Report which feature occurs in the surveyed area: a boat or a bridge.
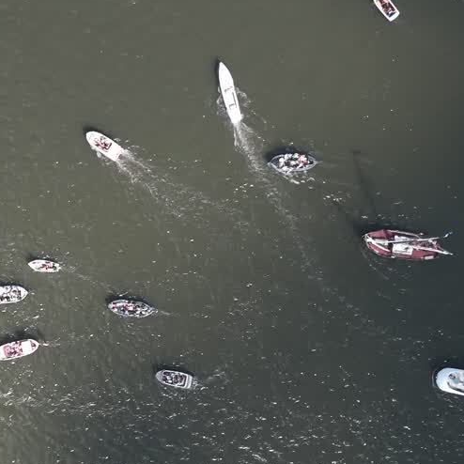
boat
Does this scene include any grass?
No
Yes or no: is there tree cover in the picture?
No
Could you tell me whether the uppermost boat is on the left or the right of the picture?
right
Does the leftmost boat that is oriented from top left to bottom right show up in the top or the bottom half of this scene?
top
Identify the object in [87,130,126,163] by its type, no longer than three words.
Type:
boat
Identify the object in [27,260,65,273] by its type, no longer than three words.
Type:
boat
